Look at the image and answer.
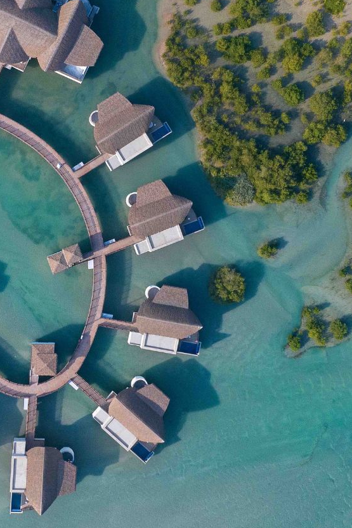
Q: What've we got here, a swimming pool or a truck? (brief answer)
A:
swimming pool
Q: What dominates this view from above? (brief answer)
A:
water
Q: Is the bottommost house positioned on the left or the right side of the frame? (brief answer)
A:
left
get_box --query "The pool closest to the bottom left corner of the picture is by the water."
[11,490,25,511]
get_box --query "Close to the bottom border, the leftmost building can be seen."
[10,434,76,514]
